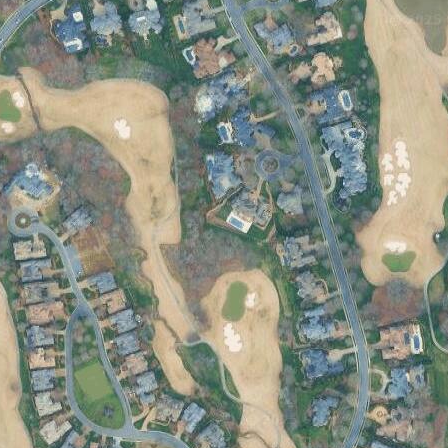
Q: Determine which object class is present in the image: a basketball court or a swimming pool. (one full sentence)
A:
The one in the frame is a swimming pool.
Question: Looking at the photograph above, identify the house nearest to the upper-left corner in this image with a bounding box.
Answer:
[51,1,91,50]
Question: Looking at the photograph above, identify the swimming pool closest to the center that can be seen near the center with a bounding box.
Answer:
[226,211,253,232]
